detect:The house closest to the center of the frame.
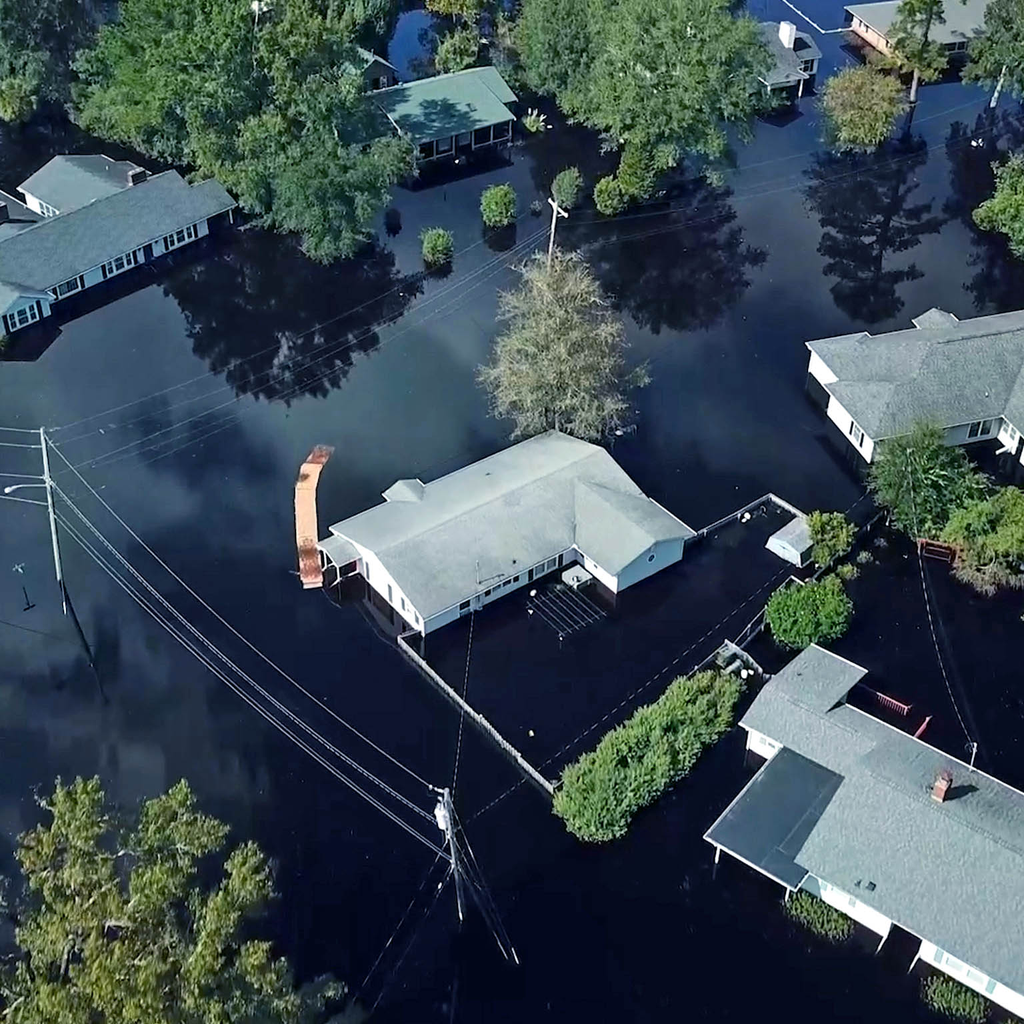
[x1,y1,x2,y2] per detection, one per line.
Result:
[313,428,697,635]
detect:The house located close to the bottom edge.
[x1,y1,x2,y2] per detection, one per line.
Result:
[703,643,1024,1020]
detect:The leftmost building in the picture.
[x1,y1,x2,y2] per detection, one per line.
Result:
[0,155,239,337]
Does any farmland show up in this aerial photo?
No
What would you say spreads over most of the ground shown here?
water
